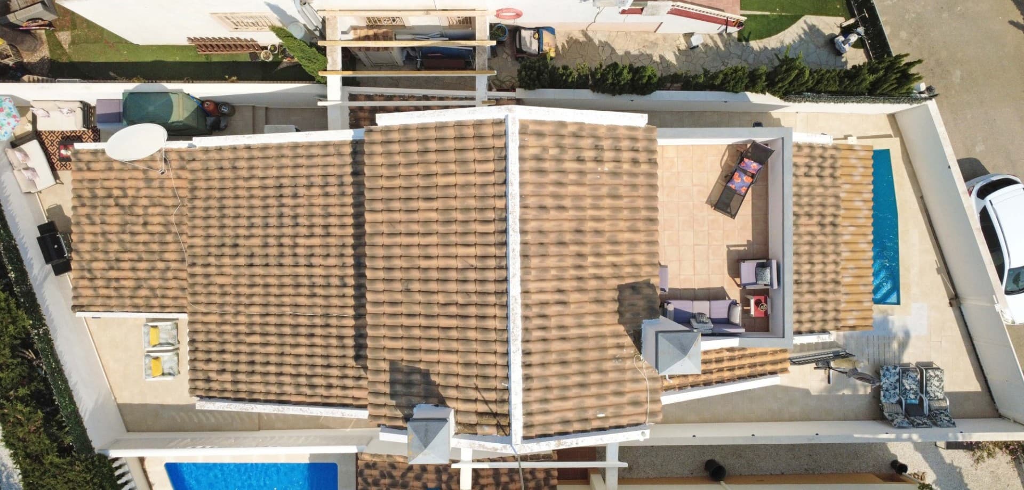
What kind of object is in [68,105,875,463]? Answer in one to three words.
house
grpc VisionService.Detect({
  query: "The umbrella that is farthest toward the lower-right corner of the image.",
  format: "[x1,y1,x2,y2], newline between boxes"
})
[814,357,871,386]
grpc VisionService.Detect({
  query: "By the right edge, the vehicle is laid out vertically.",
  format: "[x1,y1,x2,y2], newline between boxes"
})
[964,173,1024,321]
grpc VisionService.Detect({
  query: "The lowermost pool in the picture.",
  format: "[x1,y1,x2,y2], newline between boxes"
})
[164,463,338,490]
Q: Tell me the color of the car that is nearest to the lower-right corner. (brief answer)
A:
white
